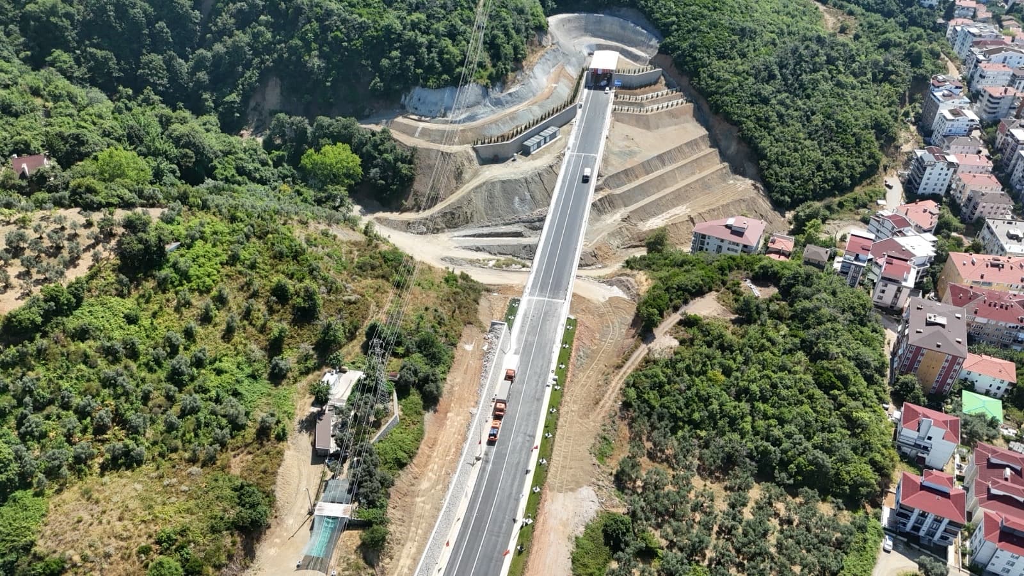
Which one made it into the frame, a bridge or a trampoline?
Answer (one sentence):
There is a bridge in the scene.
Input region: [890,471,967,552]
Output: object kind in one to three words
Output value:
house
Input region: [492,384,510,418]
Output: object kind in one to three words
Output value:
vehicle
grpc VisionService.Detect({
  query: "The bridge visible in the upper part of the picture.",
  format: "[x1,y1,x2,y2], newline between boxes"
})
[522,152,603,301]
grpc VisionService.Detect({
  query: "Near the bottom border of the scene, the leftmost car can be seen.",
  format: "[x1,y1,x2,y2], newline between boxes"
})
[883,534,896,553]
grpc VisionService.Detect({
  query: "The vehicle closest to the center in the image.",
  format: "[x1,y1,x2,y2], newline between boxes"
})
[505,353,520,380]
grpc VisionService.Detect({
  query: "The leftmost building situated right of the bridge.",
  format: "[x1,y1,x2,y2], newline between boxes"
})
[689,207,767,265]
